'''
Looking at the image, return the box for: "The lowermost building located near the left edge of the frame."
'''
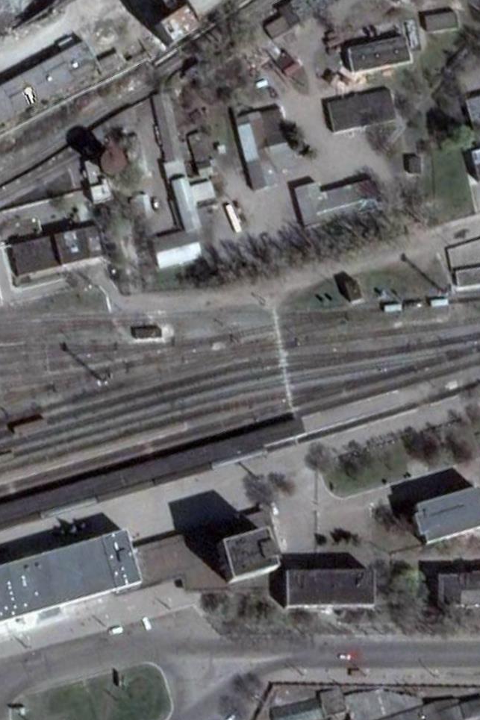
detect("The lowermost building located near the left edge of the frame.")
[0,530,142,625]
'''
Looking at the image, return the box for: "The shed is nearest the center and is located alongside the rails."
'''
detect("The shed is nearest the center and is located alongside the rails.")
[134,325,161,339]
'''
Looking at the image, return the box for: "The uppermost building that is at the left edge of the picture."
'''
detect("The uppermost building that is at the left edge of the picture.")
[0,34,97,124]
